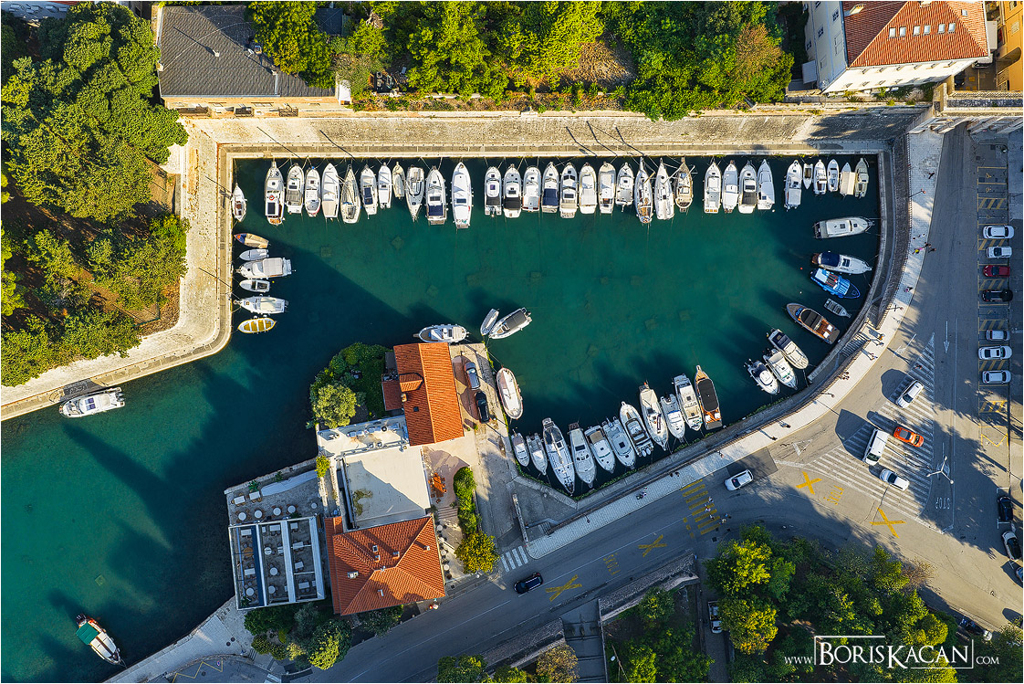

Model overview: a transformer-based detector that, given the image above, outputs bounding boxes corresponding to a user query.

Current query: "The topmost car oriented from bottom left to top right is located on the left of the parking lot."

[892,378,928,410]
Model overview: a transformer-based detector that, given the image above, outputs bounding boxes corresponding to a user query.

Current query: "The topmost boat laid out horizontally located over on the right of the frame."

[812,217,880,241]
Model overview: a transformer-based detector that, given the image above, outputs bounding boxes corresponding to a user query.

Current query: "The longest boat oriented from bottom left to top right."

[490,306,531,338]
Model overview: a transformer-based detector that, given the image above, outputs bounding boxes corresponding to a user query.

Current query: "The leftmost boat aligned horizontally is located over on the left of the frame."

[57,388,127,415]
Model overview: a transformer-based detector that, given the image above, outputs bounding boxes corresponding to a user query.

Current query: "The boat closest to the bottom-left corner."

[75,616,128,668]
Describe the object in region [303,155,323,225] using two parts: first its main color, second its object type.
white boat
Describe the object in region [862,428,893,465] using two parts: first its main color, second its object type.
white van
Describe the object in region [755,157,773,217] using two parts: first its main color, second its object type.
white boat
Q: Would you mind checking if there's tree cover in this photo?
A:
Yes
